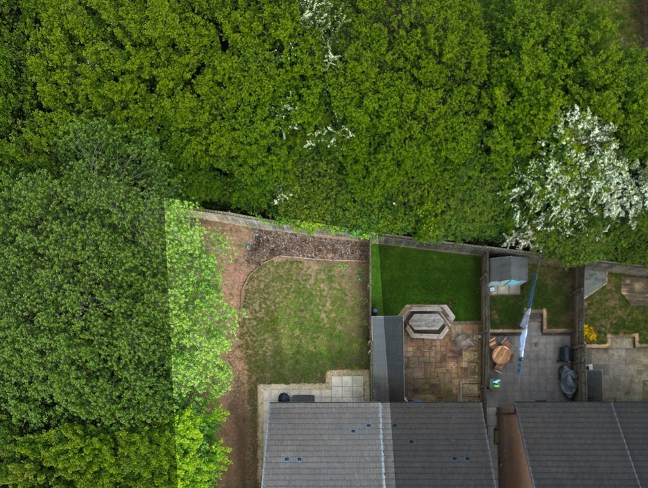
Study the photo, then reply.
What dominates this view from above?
trees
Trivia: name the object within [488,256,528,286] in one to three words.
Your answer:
shed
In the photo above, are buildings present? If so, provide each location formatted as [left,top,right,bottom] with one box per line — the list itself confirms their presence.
[262,399,497,488]
[488,256,528,286]
[497,398,648,488]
